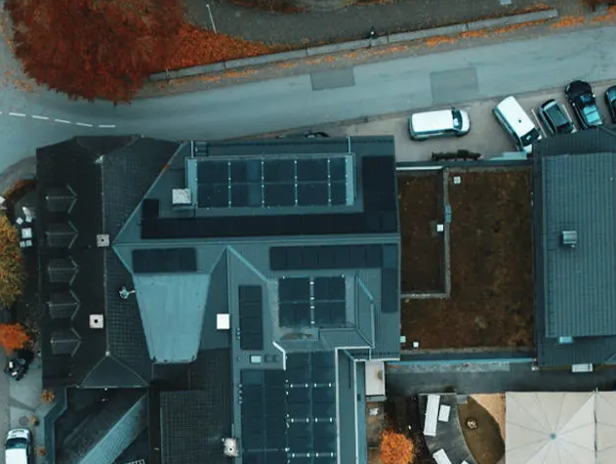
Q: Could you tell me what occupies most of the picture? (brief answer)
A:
buildings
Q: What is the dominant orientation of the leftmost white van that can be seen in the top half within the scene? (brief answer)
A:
from left to right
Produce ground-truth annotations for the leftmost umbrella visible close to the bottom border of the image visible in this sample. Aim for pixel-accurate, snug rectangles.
[505,391,595,464]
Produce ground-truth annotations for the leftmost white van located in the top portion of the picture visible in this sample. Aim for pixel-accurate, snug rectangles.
[408,109,470,141]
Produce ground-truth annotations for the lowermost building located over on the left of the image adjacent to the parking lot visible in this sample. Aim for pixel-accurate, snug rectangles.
[36,135,403,464]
